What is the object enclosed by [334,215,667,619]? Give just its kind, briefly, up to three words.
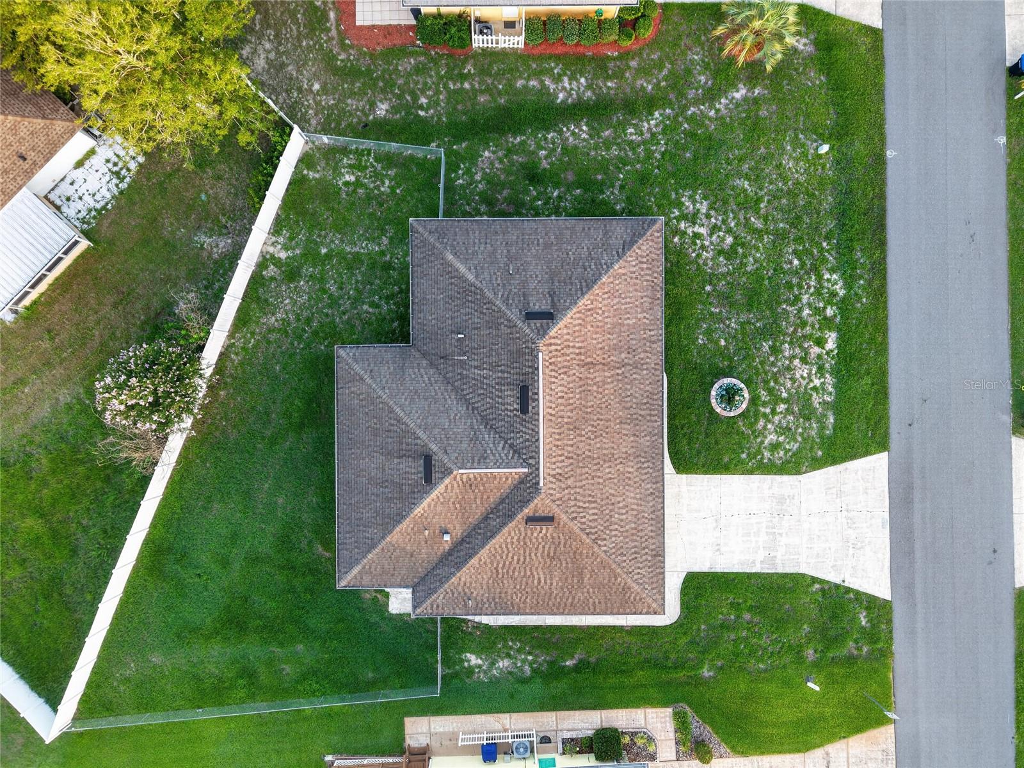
house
